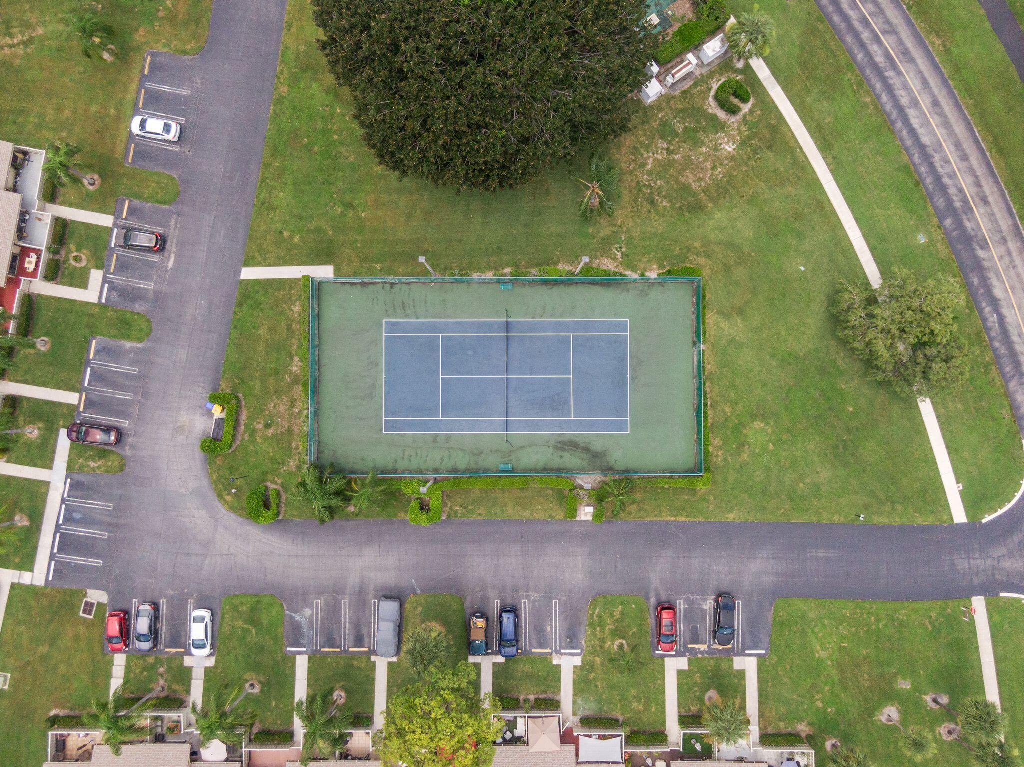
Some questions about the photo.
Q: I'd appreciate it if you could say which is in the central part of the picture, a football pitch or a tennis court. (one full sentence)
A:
There is a tennis court in the central part of the picture.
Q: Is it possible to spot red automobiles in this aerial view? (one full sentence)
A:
Yes, this view includes a red automobile.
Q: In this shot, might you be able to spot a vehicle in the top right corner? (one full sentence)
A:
No, I can find no vehicle in the top right corner.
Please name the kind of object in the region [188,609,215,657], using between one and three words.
car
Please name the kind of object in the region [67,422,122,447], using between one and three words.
car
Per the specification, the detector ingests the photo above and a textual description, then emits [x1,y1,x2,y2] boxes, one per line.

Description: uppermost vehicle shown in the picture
[131,114,181,142]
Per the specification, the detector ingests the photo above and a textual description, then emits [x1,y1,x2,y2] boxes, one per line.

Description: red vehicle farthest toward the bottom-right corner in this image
[656,603,680,651]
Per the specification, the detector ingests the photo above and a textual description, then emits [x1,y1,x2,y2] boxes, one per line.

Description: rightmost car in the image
[713,594,737,645]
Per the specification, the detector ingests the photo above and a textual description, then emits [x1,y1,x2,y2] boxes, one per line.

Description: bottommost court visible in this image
[318,283,696,473]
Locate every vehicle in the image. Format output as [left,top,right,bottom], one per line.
[115,226,165,253]
[105,612,132,652]
[67,422,122,447]
[496,606,521,656]
[656,603,680,651]
[469,615,488,655]
[131,114,181,142]
[133,603,161,652]
[188,609,215,657]
[713,594,737,645]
